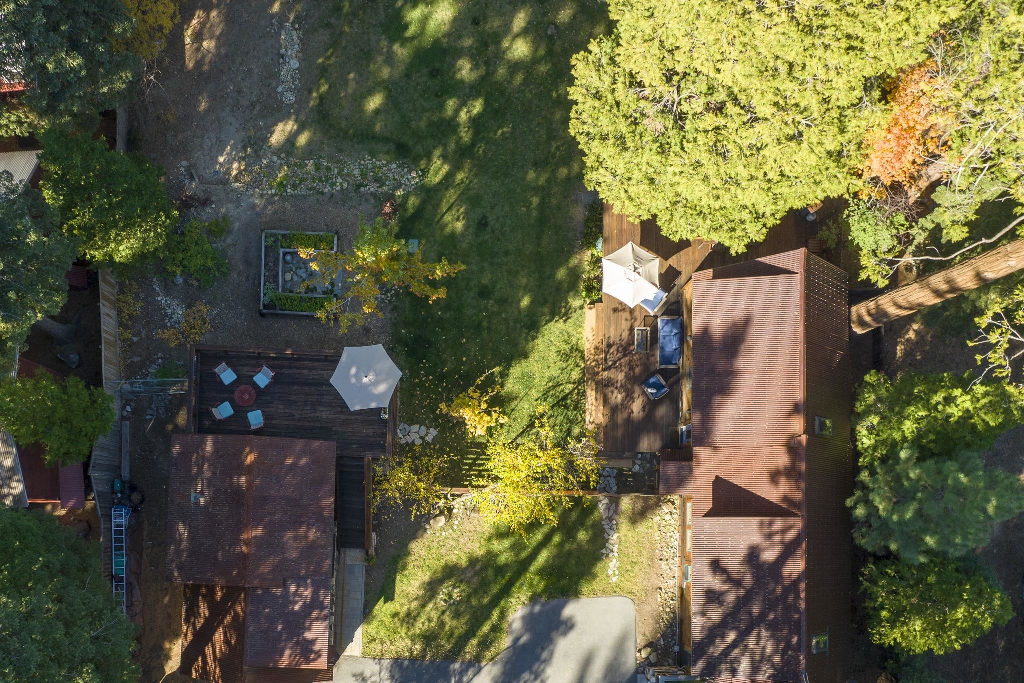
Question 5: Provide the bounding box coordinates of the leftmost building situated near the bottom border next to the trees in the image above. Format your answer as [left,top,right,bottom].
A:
[164,434,338,683]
